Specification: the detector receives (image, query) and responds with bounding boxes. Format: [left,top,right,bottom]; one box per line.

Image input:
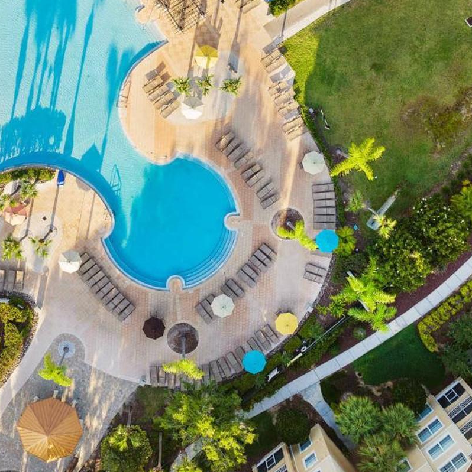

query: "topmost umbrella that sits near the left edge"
[5,201,28,224]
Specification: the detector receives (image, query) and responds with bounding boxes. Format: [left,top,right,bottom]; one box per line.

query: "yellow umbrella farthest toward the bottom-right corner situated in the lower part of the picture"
[274,310,298,335]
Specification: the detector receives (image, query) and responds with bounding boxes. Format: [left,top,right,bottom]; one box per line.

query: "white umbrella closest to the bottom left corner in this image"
[59,249,82,274]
